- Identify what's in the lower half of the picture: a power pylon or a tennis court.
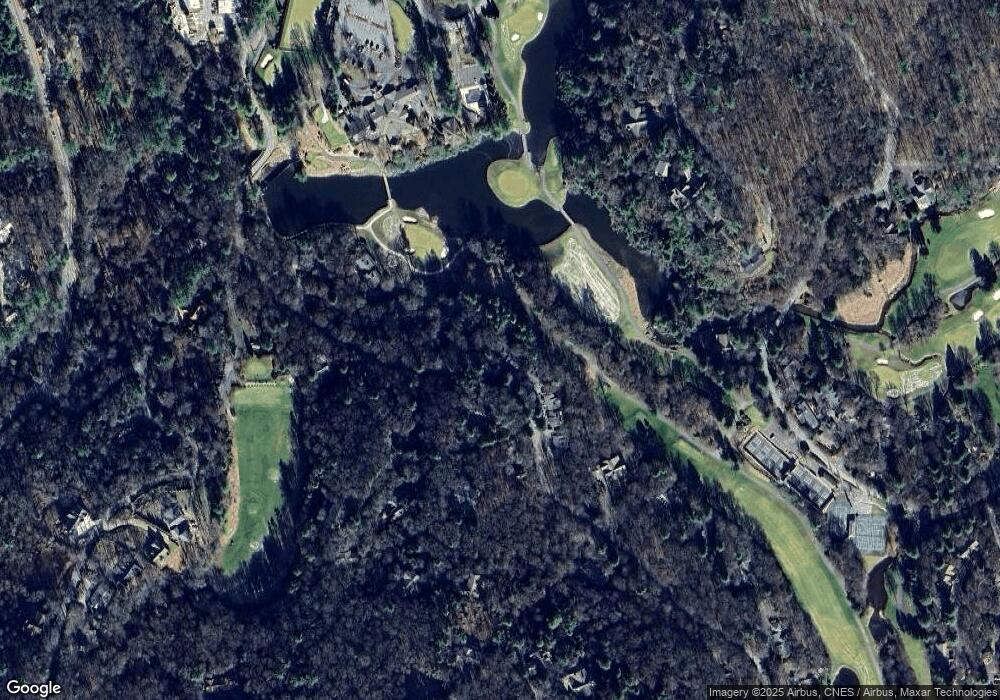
tennis court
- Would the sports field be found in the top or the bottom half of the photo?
bottom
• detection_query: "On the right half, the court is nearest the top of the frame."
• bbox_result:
[744,432,796,477]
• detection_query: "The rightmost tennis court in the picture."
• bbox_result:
[856,515,888,554]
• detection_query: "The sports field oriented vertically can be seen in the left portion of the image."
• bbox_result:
[220,380,296,578]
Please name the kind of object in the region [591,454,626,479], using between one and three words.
house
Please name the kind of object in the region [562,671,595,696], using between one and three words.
house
